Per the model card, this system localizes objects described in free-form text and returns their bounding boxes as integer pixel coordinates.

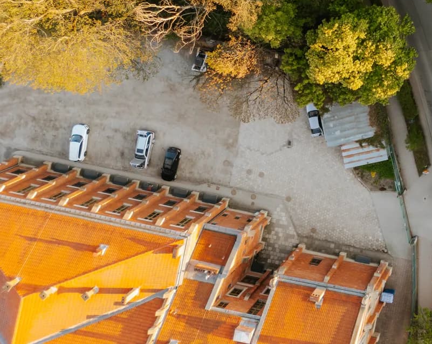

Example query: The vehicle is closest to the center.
[162,142,184,183]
